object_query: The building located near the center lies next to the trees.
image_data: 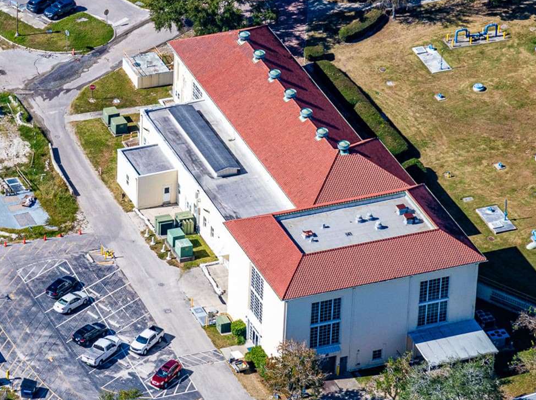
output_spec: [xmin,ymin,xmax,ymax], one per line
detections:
[118,24,501,385]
